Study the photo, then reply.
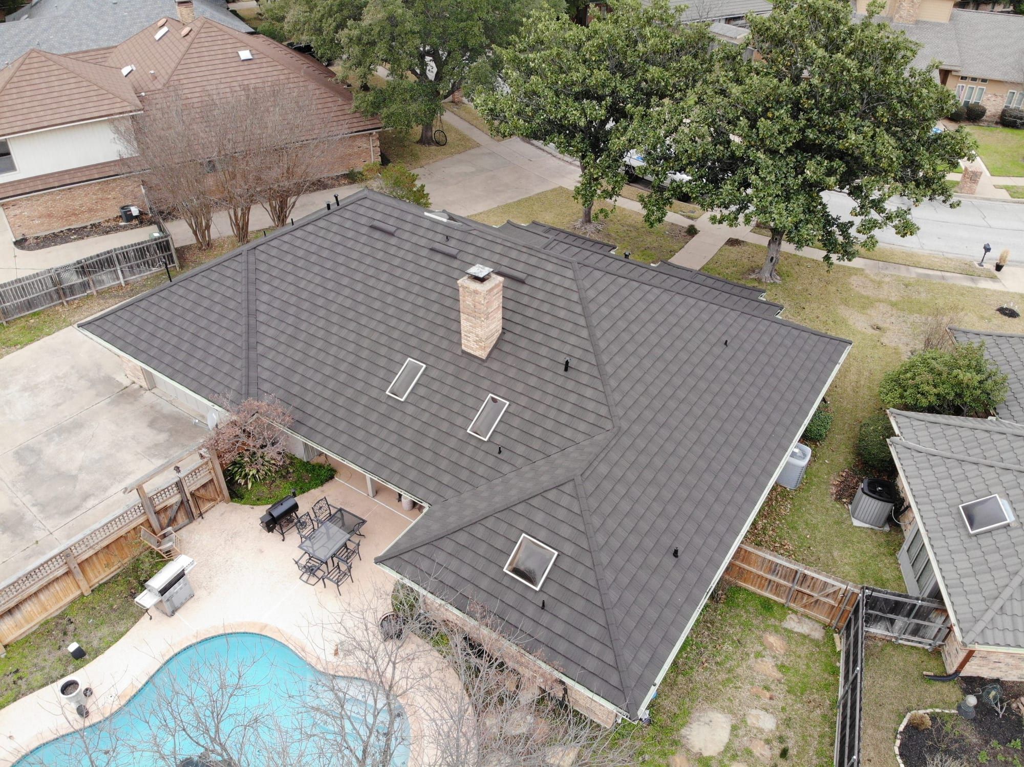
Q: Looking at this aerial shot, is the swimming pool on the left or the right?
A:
left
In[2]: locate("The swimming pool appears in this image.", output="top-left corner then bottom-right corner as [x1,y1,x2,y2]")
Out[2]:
[20,631,409,767]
